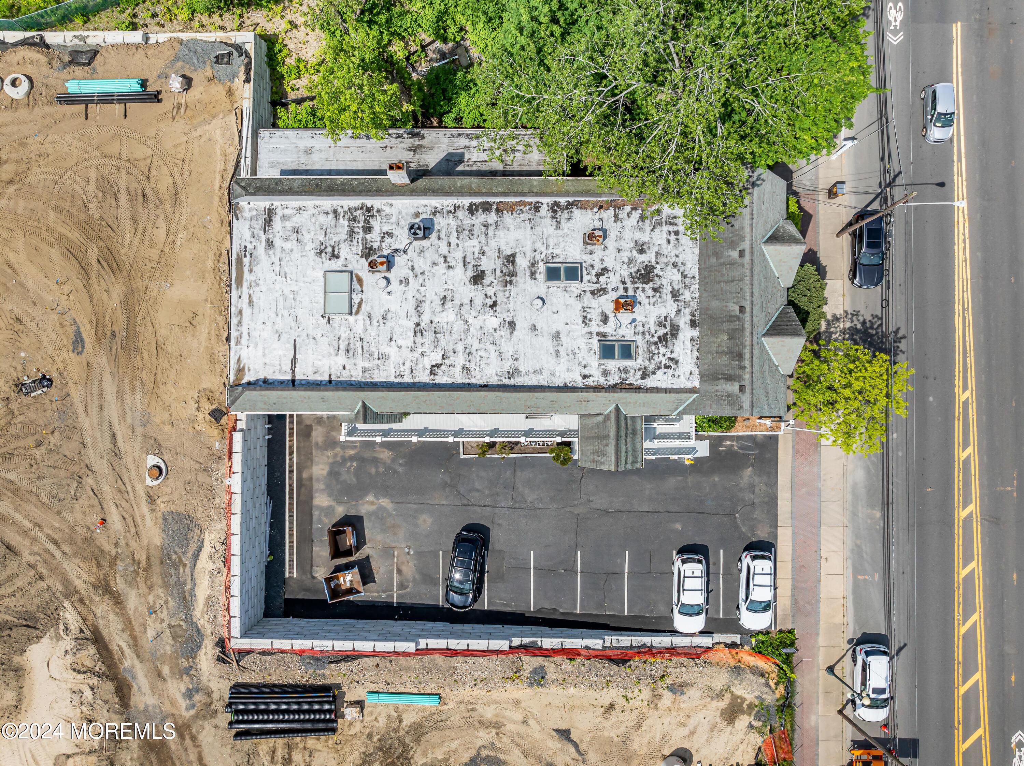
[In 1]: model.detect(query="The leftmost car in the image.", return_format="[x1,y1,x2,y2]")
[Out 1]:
[441,529,485,613]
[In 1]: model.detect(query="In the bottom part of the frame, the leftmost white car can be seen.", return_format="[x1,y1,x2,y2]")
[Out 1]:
[670,549,711,632]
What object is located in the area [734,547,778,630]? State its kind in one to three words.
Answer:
car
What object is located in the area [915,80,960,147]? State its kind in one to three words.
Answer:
car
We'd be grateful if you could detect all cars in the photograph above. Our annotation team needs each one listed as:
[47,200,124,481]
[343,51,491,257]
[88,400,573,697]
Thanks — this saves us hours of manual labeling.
[915,80,960,147]
[846,639,895,723]
[843,211,889,291]
[441,529,485,613]
[734,547,778,630]
[670,549,711,632]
